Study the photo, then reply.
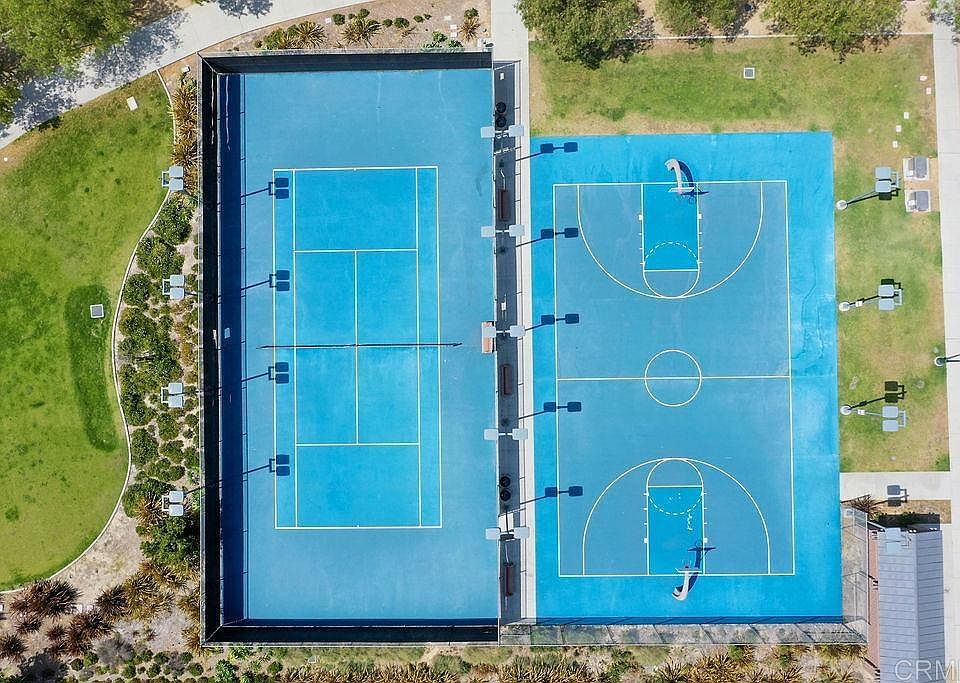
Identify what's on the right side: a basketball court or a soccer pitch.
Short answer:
basketball court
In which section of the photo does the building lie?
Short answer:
bottom right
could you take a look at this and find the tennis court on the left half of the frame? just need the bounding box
[222,67,501,627]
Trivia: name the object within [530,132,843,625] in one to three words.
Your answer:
basketball court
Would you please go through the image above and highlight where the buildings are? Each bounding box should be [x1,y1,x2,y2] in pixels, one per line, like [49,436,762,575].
[866,521,947,683]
